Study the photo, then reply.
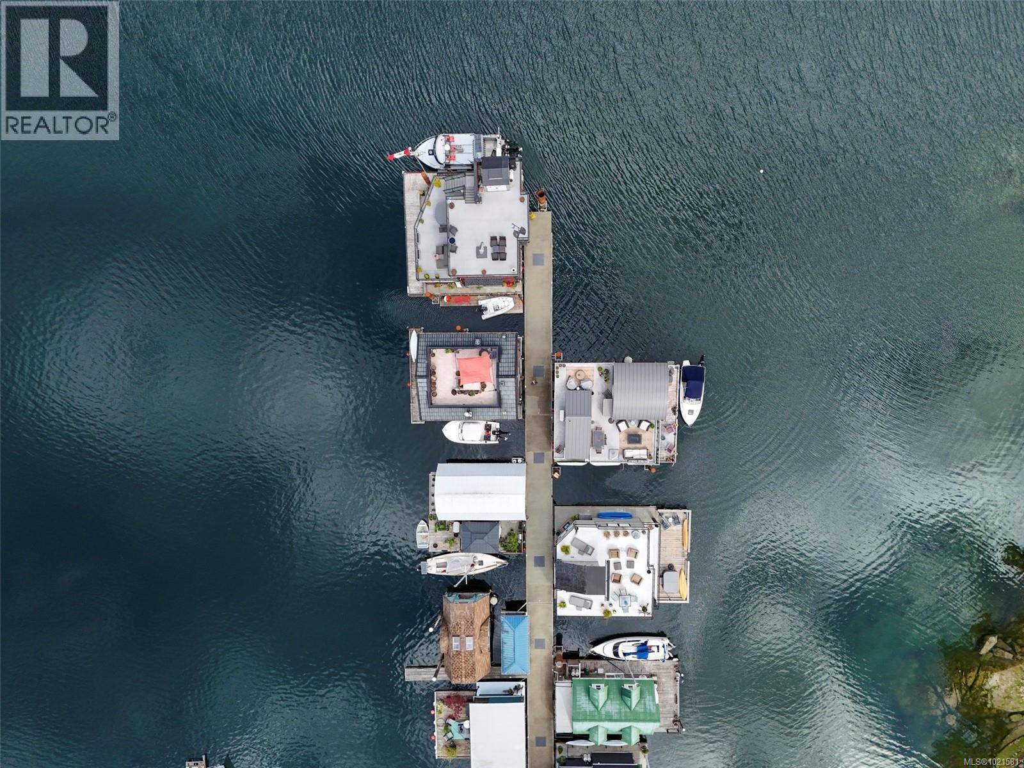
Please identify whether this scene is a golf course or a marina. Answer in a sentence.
The area seen from above is a marina.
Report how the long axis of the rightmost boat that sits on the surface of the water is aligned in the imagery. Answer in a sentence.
In this picture, the rightmost boat that sits on the surface of the water is oriented from top to bottom.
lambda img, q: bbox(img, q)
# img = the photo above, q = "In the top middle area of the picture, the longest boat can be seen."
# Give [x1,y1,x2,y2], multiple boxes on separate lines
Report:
[386,122,518,167]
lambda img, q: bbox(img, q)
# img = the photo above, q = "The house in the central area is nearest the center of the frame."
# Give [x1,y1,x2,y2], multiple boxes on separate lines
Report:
[409,327,523,423]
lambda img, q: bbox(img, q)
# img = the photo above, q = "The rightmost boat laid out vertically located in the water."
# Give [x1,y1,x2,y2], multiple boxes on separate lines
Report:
[679,355,708,429]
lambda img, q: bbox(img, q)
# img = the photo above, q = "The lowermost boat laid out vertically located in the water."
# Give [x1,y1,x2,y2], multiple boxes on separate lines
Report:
[416,520,428,550]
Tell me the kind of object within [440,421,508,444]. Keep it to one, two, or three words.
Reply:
boat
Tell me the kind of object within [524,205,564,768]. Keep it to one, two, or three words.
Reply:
pier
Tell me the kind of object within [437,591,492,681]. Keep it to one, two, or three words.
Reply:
house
